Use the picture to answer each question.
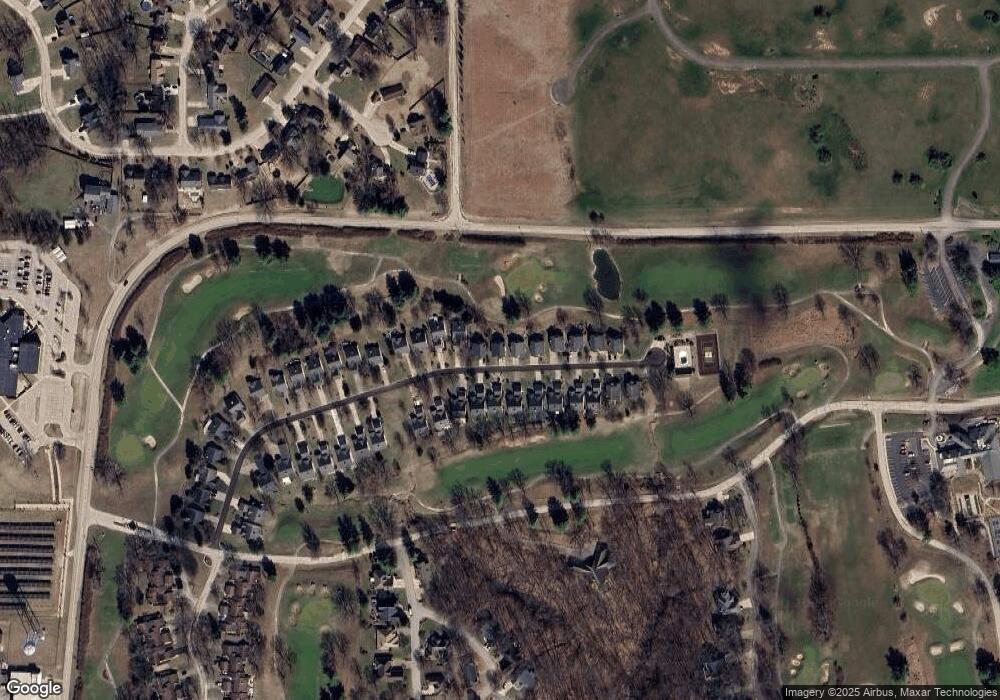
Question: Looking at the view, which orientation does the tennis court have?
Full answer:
I'd say the tennis court is aligned from top to bottom in the picture.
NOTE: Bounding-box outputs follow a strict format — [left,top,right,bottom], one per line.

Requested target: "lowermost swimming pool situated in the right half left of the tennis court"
[674,345,692,367]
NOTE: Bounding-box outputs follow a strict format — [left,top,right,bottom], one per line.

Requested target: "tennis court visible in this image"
[696,334,720,376]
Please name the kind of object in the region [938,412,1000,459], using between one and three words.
building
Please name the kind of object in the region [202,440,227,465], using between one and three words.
house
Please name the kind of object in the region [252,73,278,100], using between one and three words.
house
